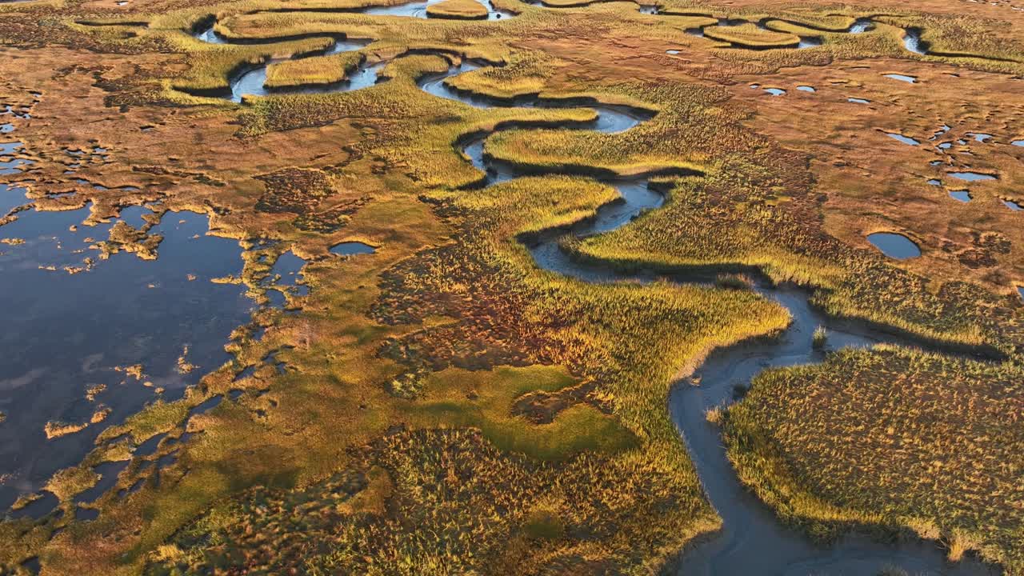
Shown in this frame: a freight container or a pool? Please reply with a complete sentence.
The one in the frame is a pool.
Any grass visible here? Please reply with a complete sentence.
Yes, grass can be seen from above here.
